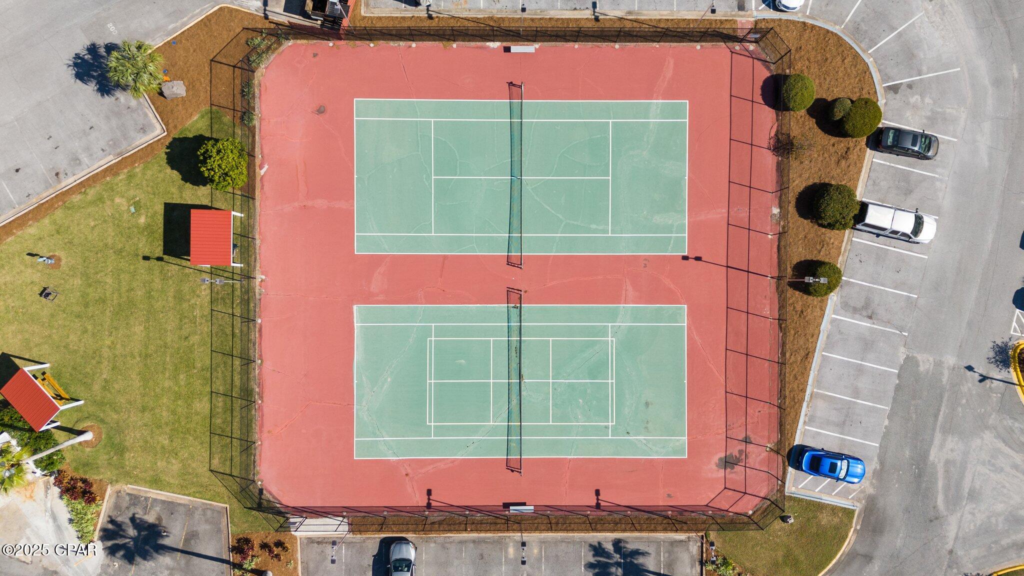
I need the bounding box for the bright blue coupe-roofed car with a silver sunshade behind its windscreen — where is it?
[797,445,864,484]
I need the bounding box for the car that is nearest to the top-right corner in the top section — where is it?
[874,125,939,161]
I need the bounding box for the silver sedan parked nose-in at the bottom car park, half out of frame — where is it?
[387,539,418,576]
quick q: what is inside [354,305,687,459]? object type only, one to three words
tennis court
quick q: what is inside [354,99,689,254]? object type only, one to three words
tennis court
